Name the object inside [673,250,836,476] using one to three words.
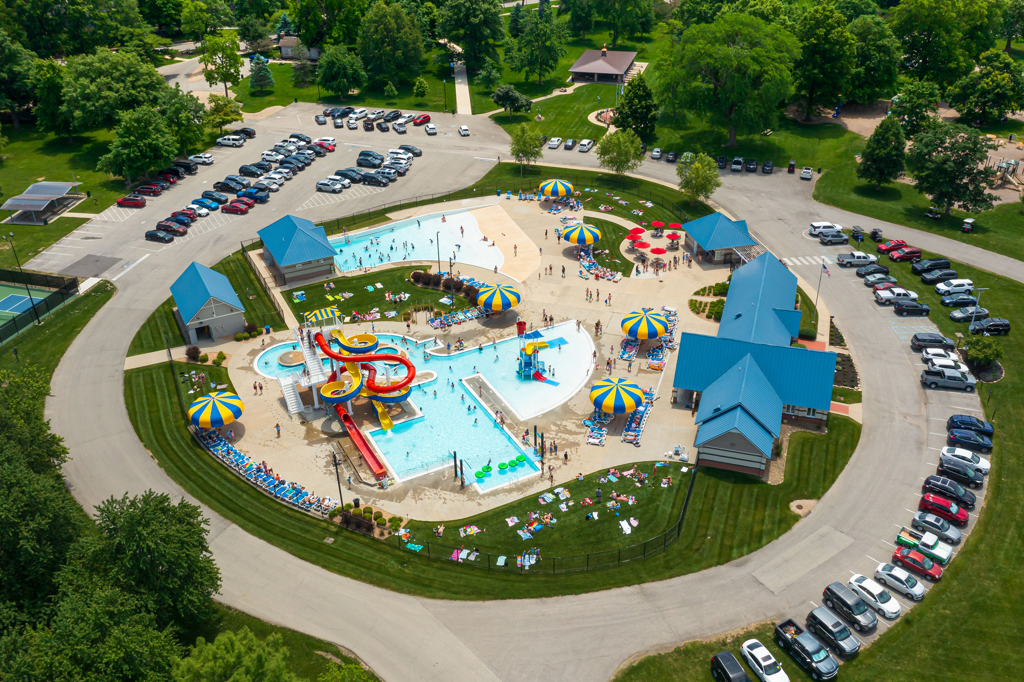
building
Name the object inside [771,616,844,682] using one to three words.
truck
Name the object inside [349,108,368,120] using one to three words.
vehicle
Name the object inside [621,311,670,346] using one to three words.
umbrella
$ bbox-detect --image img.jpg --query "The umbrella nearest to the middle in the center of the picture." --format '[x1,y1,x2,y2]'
[476,285,522,318]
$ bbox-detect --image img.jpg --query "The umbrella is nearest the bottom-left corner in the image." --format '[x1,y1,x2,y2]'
[187,394,245,432]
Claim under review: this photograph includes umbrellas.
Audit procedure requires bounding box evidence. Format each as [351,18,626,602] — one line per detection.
[628,227,647,235]
[476,285,522,318]
[663,233,682,242]
[562,225,602,251]
[666,222,683,233]
[539,179,574,204]
[632,241,652,254]
[649,220,666,231]
[649,247,668,256]
[621,311,670,346]
[624,234,643,242]
[589,379,645,419]
[187,394,245,432]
